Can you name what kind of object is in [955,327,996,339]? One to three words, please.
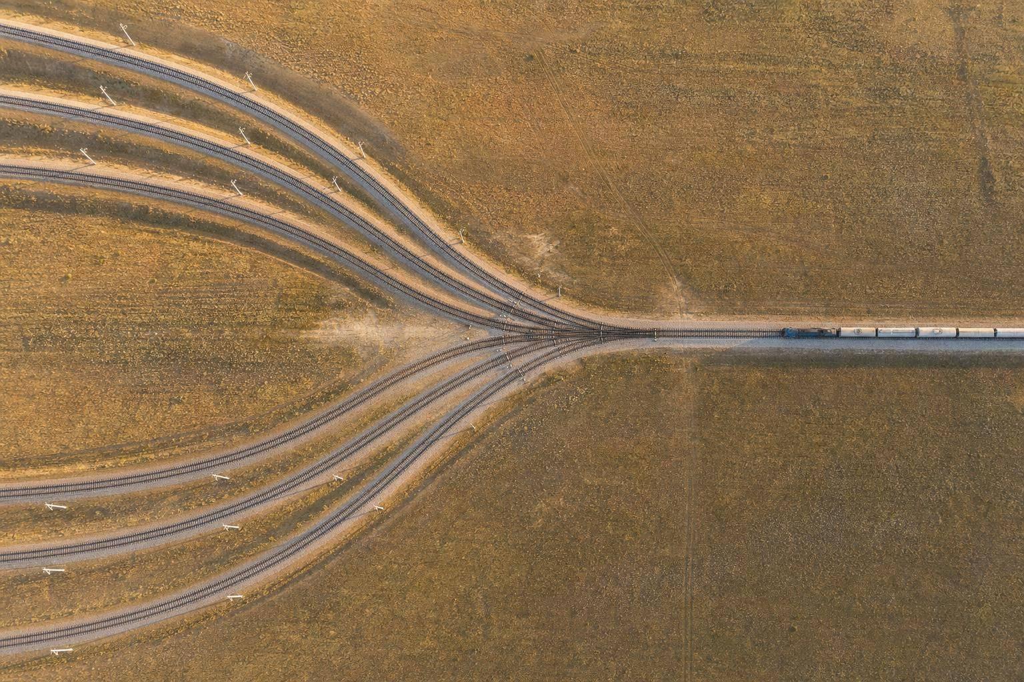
rail car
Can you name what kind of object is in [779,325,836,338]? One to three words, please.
rail car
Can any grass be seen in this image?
Yes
